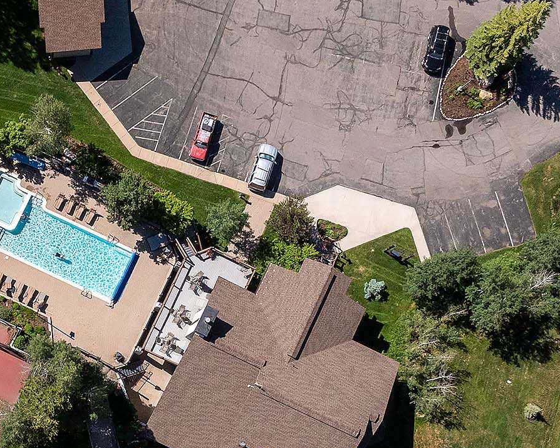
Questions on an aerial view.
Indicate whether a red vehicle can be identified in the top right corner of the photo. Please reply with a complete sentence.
No, no red vehicle appears in the top right corner of the photo.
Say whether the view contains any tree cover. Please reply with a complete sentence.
Yes, there is tree cover in the image.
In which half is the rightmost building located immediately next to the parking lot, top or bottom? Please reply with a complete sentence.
The bottom half of the photo is where the rightmost building located immediately next to the parking lot is.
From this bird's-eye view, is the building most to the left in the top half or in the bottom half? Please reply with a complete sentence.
You can find the building most to the left in the top half.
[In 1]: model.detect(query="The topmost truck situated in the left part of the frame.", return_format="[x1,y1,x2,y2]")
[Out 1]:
[190,107,223,162]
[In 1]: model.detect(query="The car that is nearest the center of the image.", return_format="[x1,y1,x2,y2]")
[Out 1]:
[251,141,281,192]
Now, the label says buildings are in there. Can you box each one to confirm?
[39,0,104,60]
[147,258,399,448]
